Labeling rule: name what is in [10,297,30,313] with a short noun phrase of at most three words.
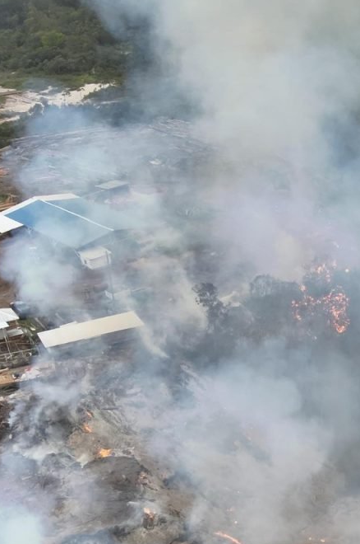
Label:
vehicle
